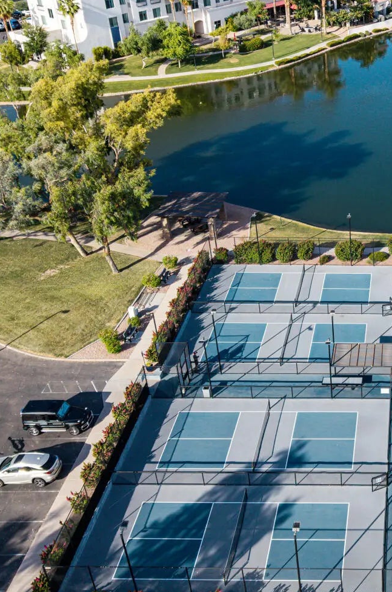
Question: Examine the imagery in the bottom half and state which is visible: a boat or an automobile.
automobile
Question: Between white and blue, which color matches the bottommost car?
white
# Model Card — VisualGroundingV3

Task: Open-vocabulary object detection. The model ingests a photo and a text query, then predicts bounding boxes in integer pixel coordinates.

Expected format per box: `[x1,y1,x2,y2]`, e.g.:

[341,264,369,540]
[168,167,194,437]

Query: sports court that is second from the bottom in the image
[158,411,358,469]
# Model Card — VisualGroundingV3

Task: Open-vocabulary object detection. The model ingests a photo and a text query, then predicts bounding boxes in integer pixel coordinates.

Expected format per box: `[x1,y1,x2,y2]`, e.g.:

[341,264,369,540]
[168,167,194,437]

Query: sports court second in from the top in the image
[201,322,367,362]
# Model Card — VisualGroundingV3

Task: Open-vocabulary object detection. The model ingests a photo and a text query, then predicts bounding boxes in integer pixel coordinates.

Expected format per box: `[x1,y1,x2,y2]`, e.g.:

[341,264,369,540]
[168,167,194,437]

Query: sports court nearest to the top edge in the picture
[225,273,372,305]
